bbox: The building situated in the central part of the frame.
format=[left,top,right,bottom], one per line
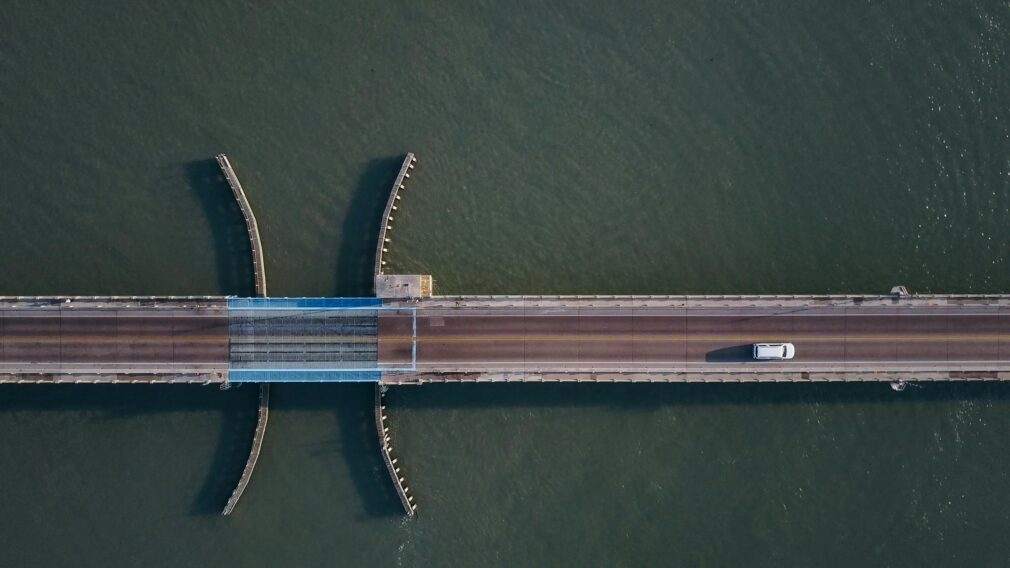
[376,275,433,296]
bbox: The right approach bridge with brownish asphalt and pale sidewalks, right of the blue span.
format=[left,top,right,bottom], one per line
[416,286,1010,390]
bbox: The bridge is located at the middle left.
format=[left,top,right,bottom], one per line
[0,296,232,384]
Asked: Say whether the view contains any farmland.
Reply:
No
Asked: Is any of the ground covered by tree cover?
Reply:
No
